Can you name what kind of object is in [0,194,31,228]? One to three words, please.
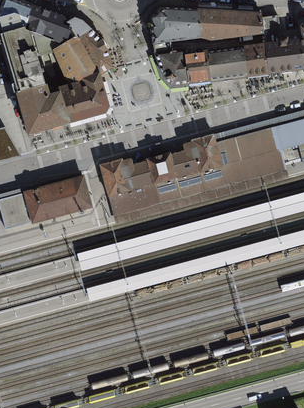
building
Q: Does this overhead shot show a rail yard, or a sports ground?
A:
rail yard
